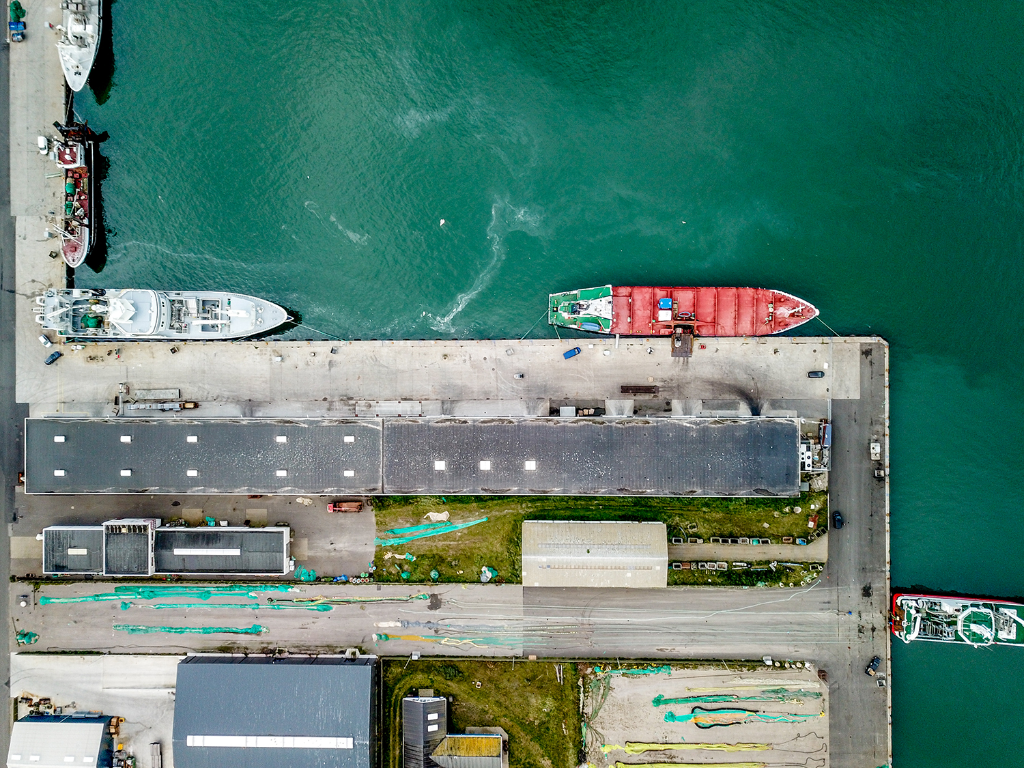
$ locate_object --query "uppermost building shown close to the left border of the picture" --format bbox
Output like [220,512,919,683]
[23,412,383,494]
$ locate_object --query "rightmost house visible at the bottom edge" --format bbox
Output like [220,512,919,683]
[403,693,502,768]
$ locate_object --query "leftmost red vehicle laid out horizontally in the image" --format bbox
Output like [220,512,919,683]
[328,500,363,513]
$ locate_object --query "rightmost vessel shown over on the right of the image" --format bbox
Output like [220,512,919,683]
[889,592,1024,651]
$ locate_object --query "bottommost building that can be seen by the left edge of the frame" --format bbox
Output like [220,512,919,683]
[7,713,113,768]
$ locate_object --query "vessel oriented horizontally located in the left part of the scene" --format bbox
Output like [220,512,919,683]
[32,289,294,340]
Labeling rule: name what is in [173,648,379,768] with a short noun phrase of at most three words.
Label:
building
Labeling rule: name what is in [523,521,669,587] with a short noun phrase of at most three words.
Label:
shed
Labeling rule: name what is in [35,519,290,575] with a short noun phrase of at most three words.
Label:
building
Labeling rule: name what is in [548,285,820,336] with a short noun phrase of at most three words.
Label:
ship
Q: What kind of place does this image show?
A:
port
